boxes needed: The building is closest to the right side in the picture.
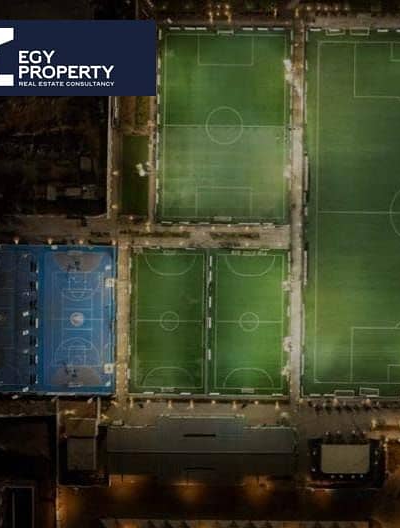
[311,438,384,486]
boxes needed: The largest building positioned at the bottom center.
[106,413,296,478]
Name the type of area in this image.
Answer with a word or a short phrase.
sports ground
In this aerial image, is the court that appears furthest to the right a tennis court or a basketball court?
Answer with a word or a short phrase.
basketball court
